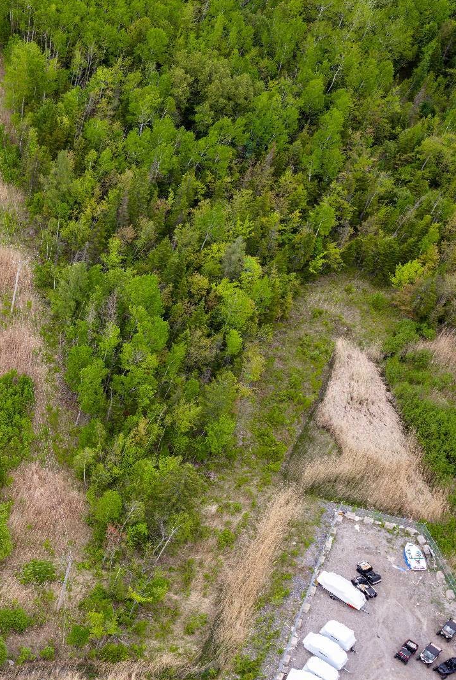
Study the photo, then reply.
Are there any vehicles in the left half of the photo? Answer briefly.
No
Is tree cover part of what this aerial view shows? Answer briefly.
Yes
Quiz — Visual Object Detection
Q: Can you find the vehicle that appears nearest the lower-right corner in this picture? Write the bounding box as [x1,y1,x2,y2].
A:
[437,658,456,679]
